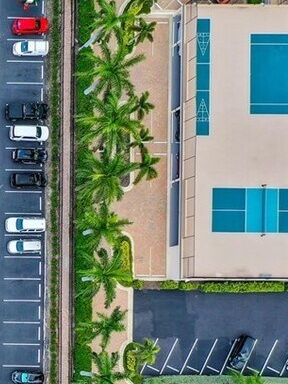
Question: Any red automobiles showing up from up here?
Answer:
Yes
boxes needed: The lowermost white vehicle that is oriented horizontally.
[6,238,41,255]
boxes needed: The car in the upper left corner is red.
[11,17,49,36]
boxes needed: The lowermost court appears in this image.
[212,184,288,235]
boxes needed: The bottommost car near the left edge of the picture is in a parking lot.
[10,370,44,384]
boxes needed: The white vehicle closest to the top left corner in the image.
[12,39,49,58]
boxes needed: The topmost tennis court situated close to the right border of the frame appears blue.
[250,34,288,115]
